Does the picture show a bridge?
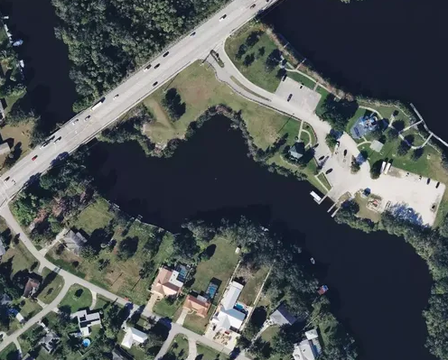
Yes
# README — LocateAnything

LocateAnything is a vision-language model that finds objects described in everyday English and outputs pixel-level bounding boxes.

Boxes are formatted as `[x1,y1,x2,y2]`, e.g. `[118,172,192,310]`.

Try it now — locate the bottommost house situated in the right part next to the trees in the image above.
[290,329,319,360]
